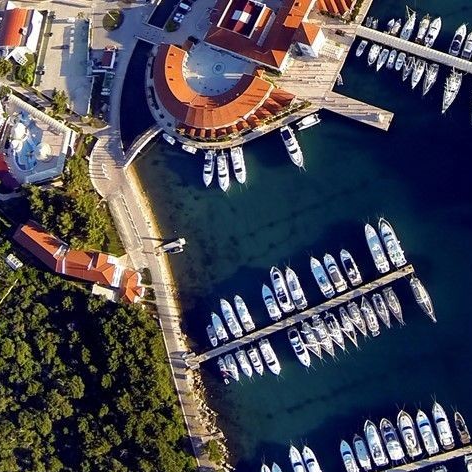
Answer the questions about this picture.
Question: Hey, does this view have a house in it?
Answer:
Yes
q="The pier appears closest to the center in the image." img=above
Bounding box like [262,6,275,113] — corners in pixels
[198,264,414,362]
